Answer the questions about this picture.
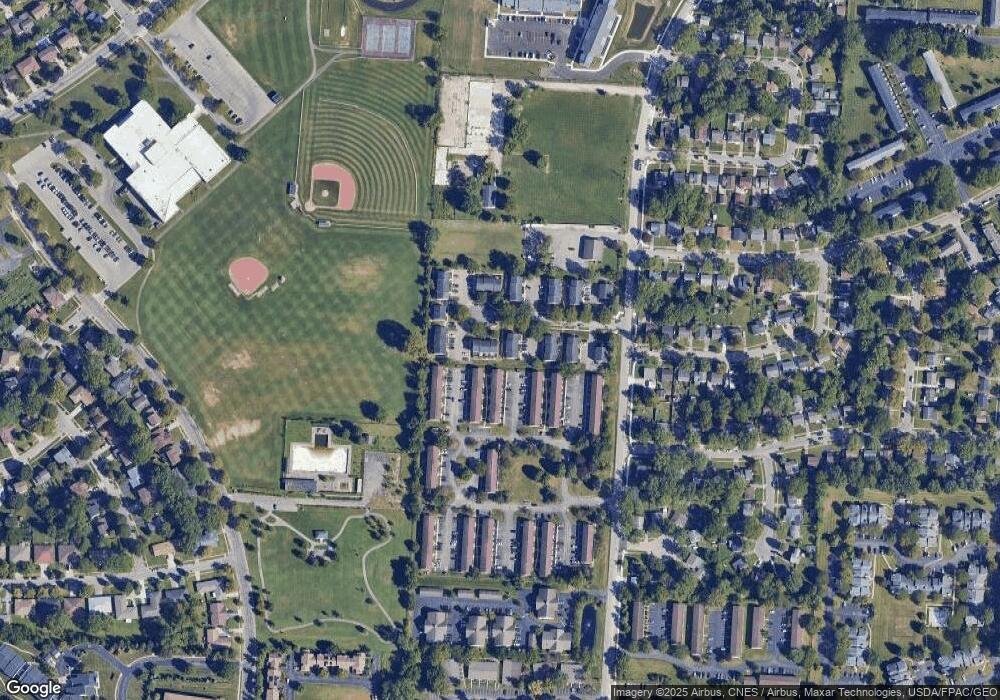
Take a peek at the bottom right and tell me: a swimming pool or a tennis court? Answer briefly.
swimming pool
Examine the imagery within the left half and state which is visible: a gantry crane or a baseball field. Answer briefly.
baseball field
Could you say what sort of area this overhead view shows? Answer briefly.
residential area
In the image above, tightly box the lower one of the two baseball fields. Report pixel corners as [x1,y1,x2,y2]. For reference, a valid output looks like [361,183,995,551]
[228,256,270,299]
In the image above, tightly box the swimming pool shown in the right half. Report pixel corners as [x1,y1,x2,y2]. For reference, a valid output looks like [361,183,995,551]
[926,603,954,628]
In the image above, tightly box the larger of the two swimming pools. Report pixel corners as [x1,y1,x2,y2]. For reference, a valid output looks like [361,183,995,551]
[286,427,354,492]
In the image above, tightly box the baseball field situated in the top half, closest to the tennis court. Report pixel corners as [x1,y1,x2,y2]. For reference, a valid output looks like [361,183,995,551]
[296,60,436,230]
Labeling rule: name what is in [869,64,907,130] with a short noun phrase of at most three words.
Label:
building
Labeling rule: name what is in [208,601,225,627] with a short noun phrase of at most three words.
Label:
house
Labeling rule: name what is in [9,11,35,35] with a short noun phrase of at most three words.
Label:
house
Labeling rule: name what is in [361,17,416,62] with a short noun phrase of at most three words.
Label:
tennis court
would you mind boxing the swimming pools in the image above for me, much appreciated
[286,427,354,492]
[926,603,954,628]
